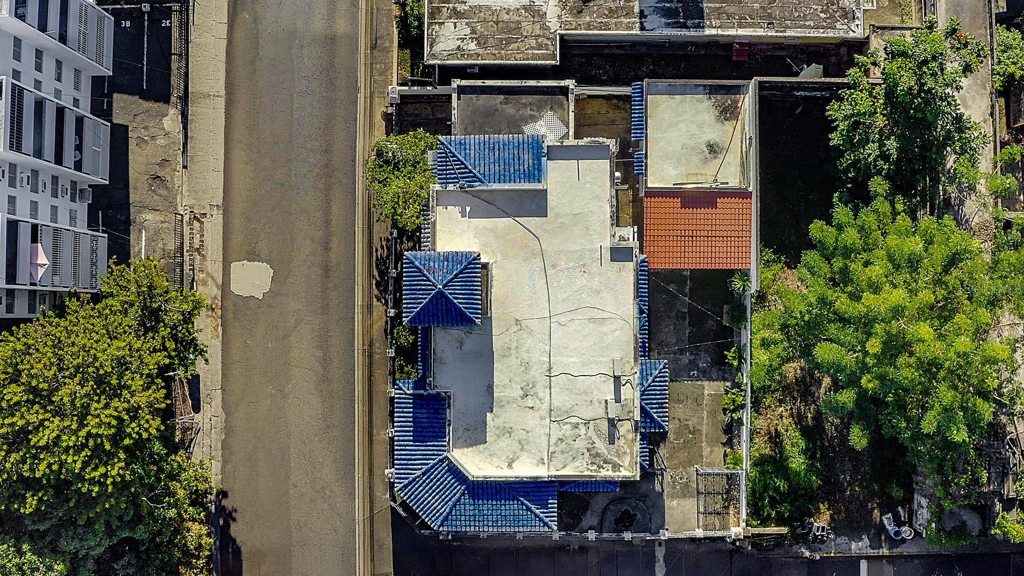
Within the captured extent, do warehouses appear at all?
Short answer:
No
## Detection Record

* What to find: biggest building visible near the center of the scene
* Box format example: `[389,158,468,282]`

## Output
[393,134,669,532]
